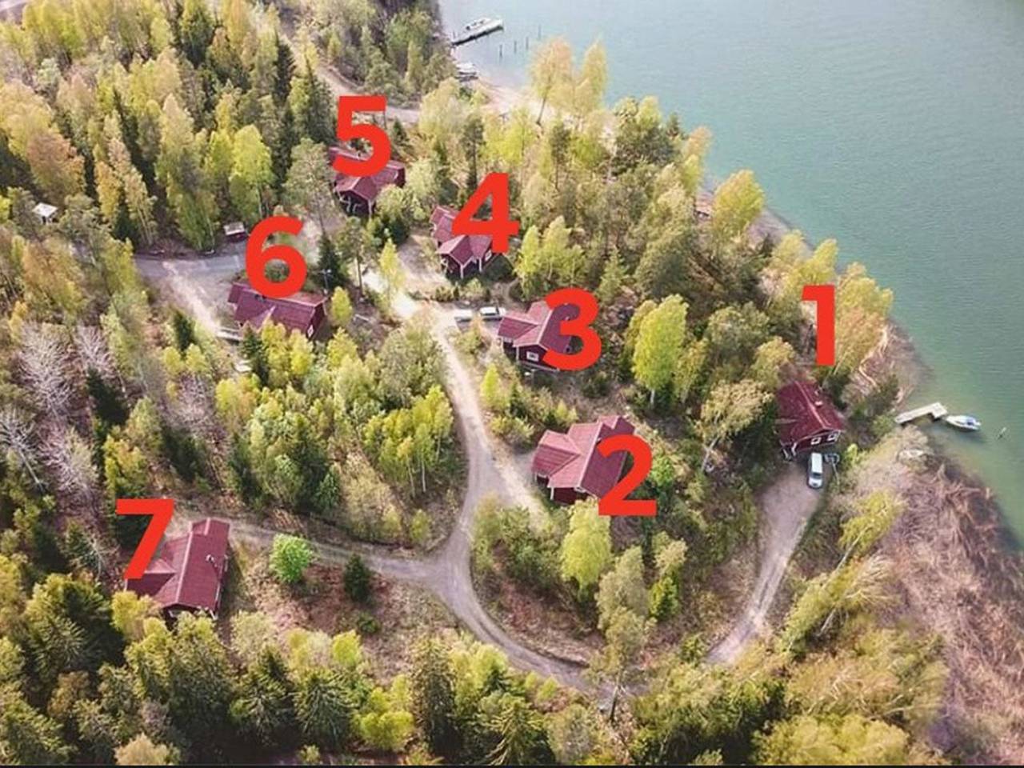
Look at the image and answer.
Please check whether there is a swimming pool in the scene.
No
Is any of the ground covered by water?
Yes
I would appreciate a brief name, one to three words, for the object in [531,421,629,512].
house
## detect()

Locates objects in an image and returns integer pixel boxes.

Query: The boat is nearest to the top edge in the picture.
[467,19,487,32]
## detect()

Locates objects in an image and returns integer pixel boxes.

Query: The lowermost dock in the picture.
[890,403,949,427]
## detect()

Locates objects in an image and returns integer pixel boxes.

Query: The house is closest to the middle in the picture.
[497,291,582,372]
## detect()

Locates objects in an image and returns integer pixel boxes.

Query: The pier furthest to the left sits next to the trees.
[446,22,506,46]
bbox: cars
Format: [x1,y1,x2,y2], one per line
[479,307,505,321]
[807,453,826,489]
